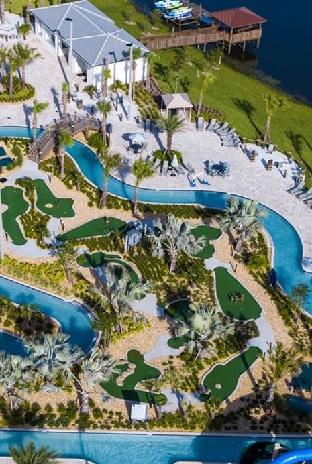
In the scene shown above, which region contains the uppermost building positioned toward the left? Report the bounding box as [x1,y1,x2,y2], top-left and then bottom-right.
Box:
[30,0,150,83]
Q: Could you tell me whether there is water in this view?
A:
Yes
